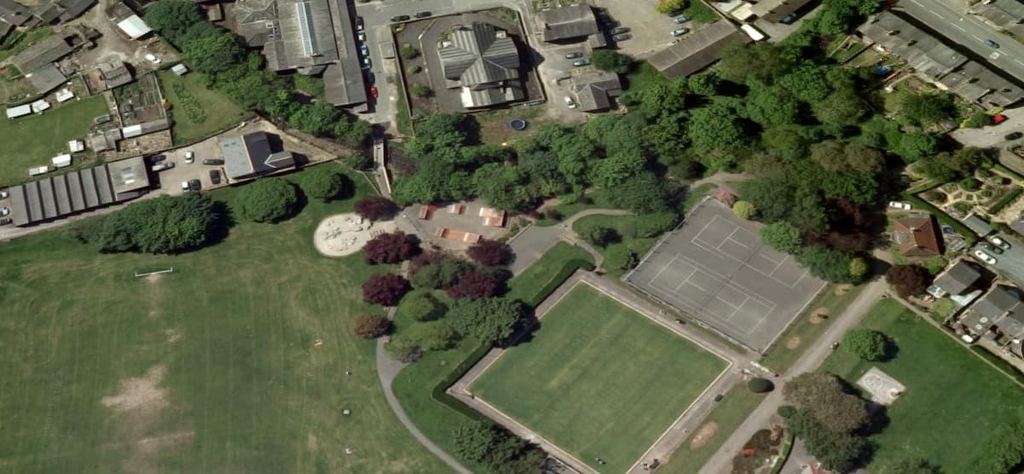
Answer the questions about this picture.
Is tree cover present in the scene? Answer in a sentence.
Yes, there is tree cover in the image.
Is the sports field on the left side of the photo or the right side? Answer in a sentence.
You can find the sports field on the left side of the picture.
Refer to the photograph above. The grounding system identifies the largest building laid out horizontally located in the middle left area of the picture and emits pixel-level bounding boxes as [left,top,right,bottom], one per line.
[9,164,116,227]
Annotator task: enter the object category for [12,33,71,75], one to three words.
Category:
barn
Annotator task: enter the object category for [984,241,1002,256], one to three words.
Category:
car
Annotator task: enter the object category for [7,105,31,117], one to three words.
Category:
vehicle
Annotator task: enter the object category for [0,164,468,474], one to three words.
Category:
sports field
